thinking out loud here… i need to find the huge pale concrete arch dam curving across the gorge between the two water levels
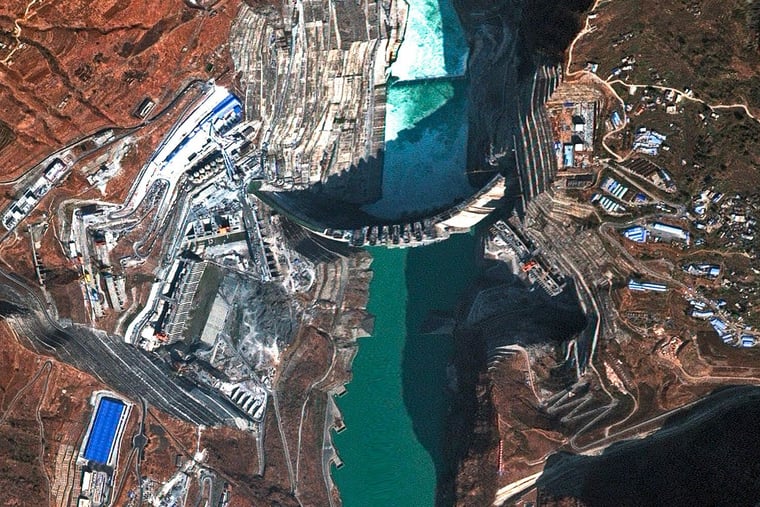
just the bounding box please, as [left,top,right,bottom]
[249,174,508,247]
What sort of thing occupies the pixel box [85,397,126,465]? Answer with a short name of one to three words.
building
